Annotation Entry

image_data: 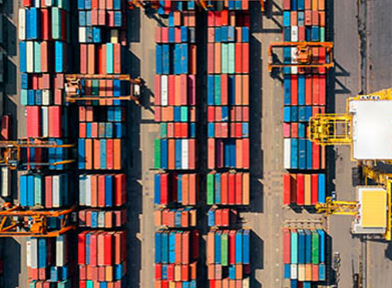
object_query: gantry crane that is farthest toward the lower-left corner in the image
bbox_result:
[0,200,79,238]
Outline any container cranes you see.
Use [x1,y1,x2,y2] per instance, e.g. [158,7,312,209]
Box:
[198,0,270,16]
[311,163,392,245]
[0,200,79,238]
[0,135,78,167]
[64,70,147,107]
[307,87,392,166]
[132,0,206,16]
[266,38,334,77]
